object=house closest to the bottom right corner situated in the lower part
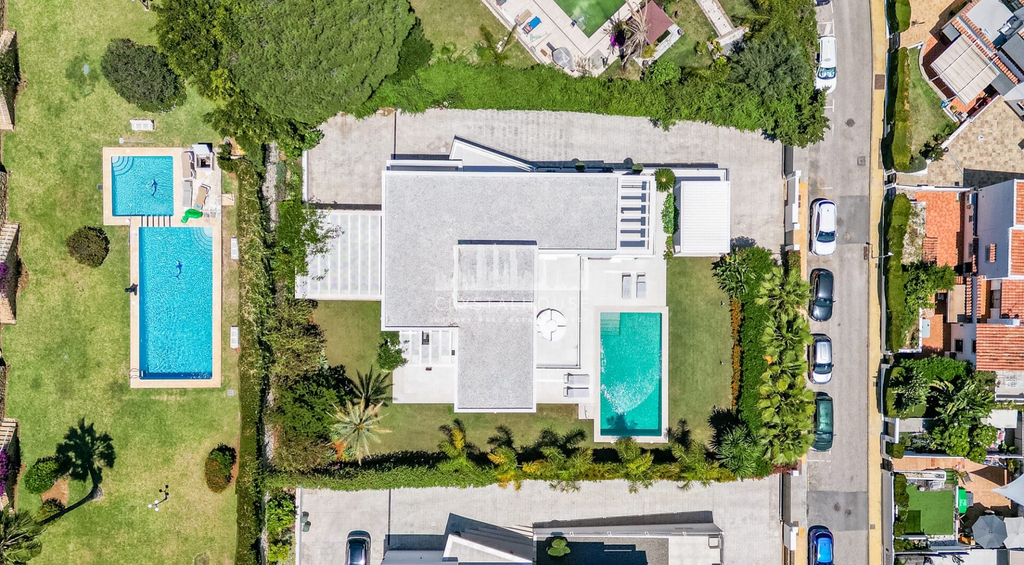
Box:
[941,323,1024,372]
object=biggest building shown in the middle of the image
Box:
[382,140,656,413]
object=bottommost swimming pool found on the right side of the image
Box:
[594,306,668,443]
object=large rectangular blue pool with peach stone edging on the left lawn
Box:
[129,225,222,388]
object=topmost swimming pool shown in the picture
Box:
[535,0,644,55]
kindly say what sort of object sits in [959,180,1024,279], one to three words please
house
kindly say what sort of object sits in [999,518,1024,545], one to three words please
umbrella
